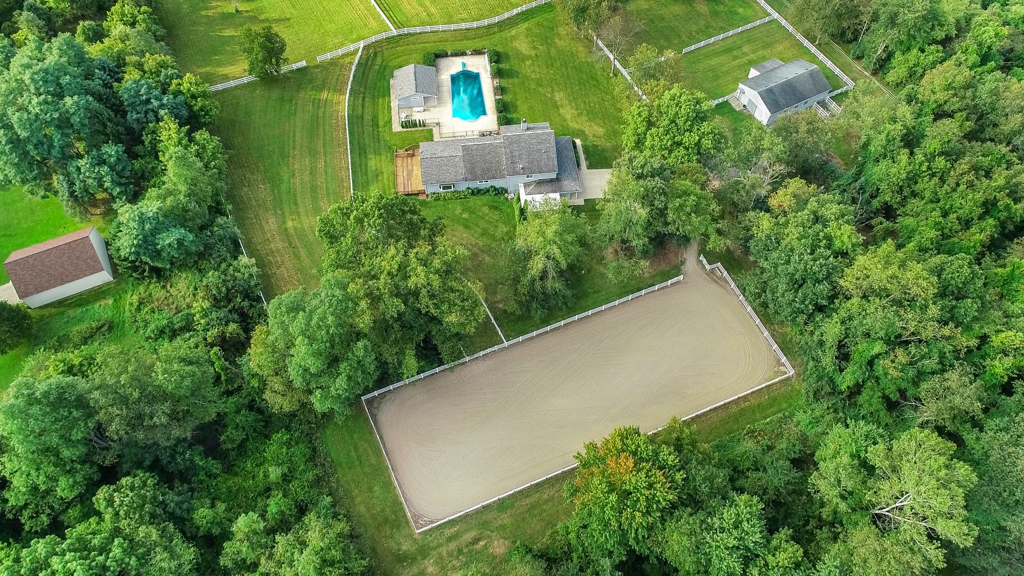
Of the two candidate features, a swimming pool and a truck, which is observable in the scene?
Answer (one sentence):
The one in the frame is a swimming pool.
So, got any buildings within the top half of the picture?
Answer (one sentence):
Yes, a building appears within the top half of the picture.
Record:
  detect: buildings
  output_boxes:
[4,227,110,307]
[396,63,439,106]
[420,119,582,217]
[734,56,831,124]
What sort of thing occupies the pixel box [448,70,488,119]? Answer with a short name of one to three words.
swimming pool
